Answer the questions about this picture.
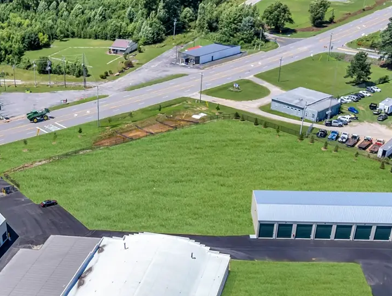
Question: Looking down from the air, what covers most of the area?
grass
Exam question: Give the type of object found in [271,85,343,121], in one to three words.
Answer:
building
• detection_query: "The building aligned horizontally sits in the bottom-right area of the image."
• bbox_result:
[248,195,392,243]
